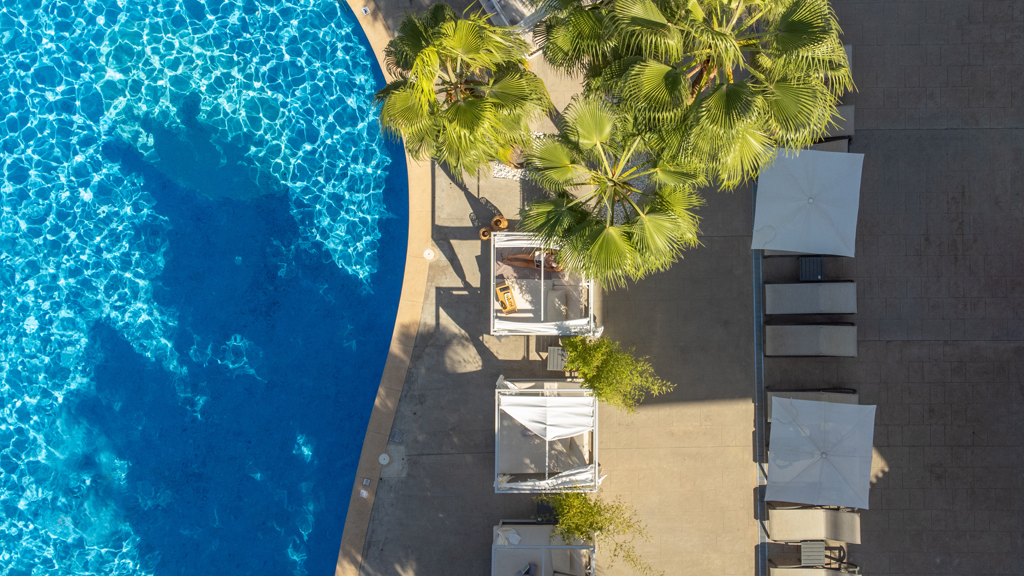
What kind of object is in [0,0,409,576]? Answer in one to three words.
swimming pool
